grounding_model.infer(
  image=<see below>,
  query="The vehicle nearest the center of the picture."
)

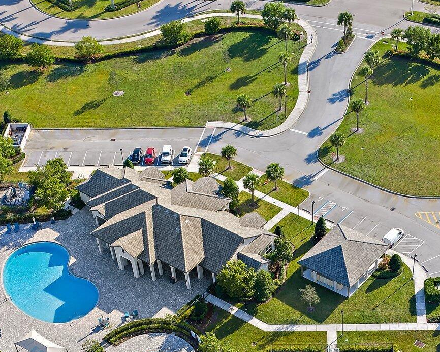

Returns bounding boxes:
[178,145,190,161]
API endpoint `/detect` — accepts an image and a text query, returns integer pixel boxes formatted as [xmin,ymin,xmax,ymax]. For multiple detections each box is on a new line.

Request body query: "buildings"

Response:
[1,122,28,152]
[298,223,389,296]
[74,165,279,289]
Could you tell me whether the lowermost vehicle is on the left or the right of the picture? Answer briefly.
right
